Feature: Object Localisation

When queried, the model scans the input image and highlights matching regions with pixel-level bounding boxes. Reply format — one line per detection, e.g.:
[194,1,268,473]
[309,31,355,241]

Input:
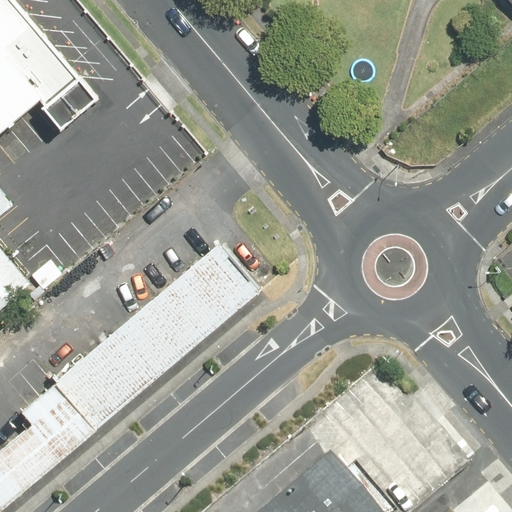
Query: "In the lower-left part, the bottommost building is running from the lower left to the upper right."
[0,384,96,510]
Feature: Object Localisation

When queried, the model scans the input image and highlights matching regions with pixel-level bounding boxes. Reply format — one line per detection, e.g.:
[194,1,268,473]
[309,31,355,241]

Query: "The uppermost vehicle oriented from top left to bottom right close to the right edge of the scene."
[462,384,492,416]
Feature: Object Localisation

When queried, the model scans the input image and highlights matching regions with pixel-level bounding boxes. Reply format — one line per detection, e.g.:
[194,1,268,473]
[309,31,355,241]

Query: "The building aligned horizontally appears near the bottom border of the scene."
[255,450,387,512]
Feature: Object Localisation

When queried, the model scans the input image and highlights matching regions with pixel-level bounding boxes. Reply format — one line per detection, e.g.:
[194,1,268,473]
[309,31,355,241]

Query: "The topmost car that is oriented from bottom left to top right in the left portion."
[142,196,172,224]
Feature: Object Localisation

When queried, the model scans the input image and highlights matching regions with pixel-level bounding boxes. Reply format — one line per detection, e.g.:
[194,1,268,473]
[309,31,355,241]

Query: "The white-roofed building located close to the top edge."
[0,0,98,134]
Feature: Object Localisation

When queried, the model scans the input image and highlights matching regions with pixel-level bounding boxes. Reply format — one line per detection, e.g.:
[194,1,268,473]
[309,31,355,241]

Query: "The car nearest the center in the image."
[234,242,260,271]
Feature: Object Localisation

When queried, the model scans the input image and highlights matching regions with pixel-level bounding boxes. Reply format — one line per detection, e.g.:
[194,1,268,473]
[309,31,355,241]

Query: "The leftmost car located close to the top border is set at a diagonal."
[164,7,192,38]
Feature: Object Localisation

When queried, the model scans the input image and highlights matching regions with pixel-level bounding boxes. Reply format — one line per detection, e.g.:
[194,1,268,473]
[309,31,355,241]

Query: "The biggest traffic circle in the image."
[362,233,428,300]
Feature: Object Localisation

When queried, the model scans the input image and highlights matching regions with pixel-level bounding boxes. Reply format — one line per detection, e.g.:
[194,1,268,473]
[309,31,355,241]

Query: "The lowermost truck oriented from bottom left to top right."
[0,411,21,441]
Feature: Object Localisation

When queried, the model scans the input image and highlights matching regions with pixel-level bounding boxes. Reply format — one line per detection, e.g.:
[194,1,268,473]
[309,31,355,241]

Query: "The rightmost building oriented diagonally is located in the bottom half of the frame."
[56,245,262,430]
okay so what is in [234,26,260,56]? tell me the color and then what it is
white car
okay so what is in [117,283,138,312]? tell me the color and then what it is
white car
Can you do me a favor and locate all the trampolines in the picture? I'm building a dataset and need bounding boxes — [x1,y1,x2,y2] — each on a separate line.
[350,58,376,82]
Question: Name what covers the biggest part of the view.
paved ground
